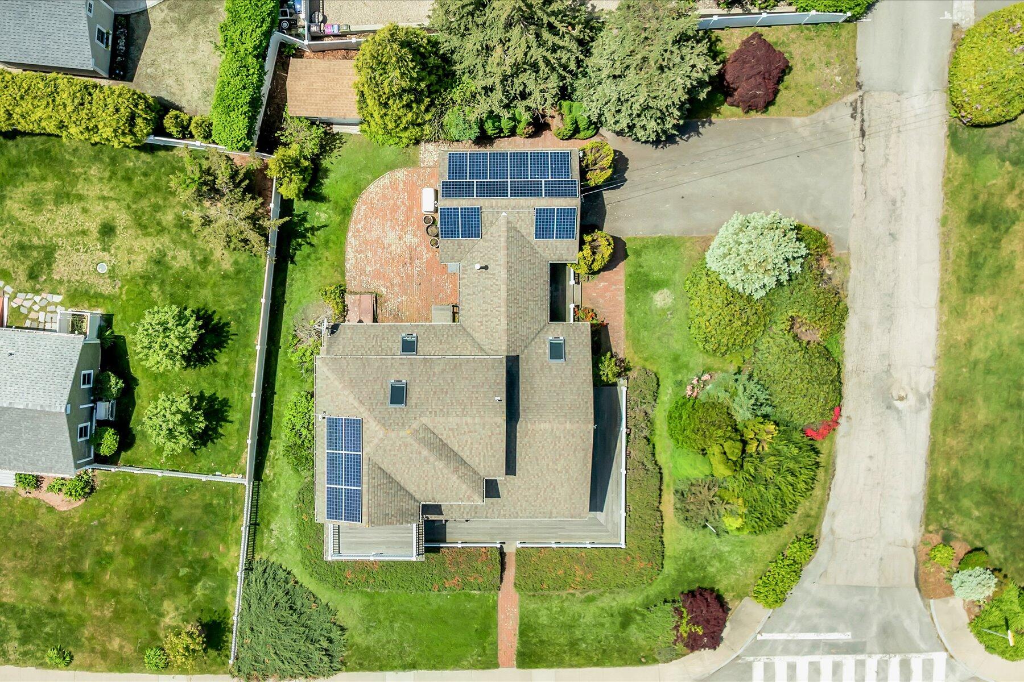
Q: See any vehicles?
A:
No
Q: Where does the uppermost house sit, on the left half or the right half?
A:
left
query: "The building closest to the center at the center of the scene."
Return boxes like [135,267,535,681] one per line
[314,147,627,561]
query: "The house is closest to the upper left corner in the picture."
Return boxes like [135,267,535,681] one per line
[0,0,115,78]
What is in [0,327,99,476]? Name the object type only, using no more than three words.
house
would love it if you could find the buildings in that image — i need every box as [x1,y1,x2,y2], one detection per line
[287,58,363,134]
[0,0,115,78]
[314,147,627,561]
[0,327,99,476]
